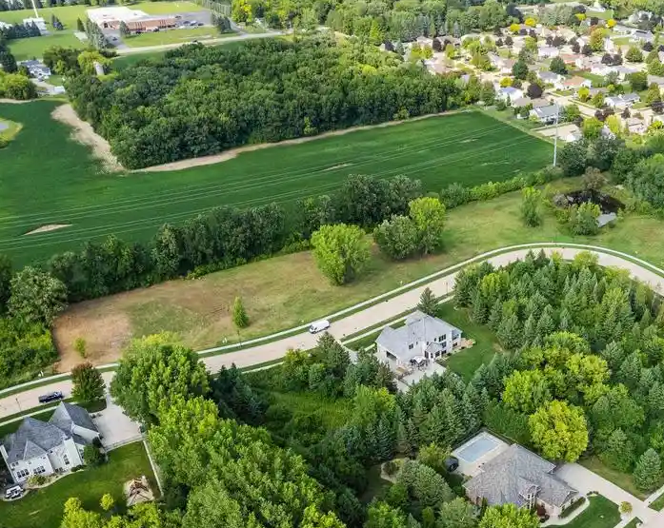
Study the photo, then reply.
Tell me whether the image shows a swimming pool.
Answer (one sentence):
Yes, the photo shows a swimming pool.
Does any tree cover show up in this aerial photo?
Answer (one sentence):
Yes, tree cover shows up in the scene.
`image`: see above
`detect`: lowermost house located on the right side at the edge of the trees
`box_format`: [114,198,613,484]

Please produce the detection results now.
[459,446,580,521]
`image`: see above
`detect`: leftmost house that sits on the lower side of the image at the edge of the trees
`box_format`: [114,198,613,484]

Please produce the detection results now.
[0,409,100,482]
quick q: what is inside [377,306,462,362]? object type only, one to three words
house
